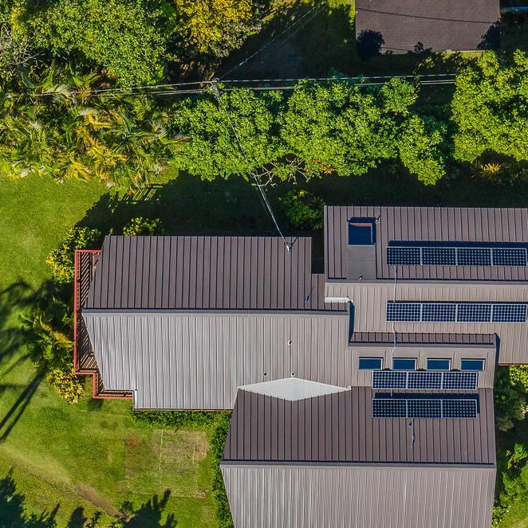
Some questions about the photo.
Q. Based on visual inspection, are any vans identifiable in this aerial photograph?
No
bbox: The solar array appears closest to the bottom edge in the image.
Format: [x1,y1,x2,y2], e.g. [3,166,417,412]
[373,398,477,418]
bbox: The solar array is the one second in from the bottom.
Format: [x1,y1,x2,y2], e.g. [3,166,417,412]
[371,371,477,390]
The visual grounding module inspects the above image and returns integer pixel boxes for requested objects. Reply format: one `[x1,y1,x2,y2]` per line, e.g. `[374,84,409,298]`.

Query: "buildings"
[354,0,503,56]
[81,206,528,528]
